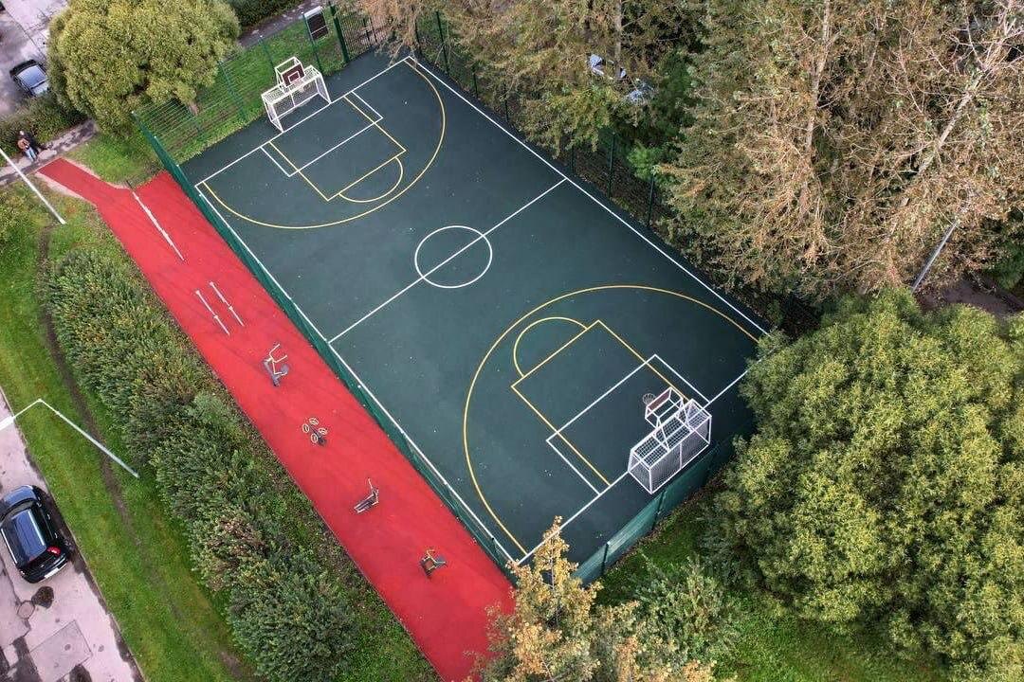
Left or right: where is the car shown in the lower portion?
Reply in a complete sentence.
The car shown in the lower portion is on the left side of the image.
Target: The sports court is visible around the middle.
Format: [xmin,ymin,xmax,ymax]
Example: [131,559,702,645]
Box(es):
[168,35,794,624]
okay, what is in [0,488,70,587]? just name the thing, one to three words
car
